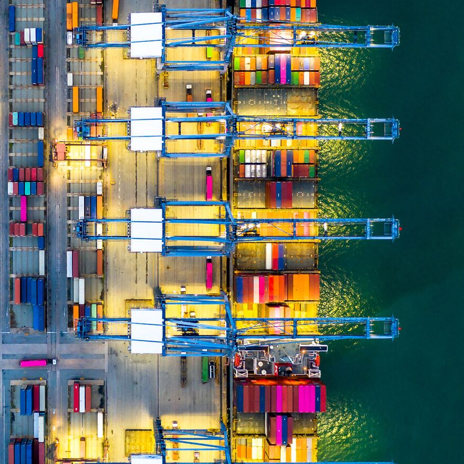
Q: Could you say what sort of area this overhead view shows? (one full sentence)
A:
The area seen from above is a port.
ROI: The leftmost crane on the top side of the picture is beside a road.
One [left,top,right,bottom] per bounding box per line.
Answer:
[51,138,110,170]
